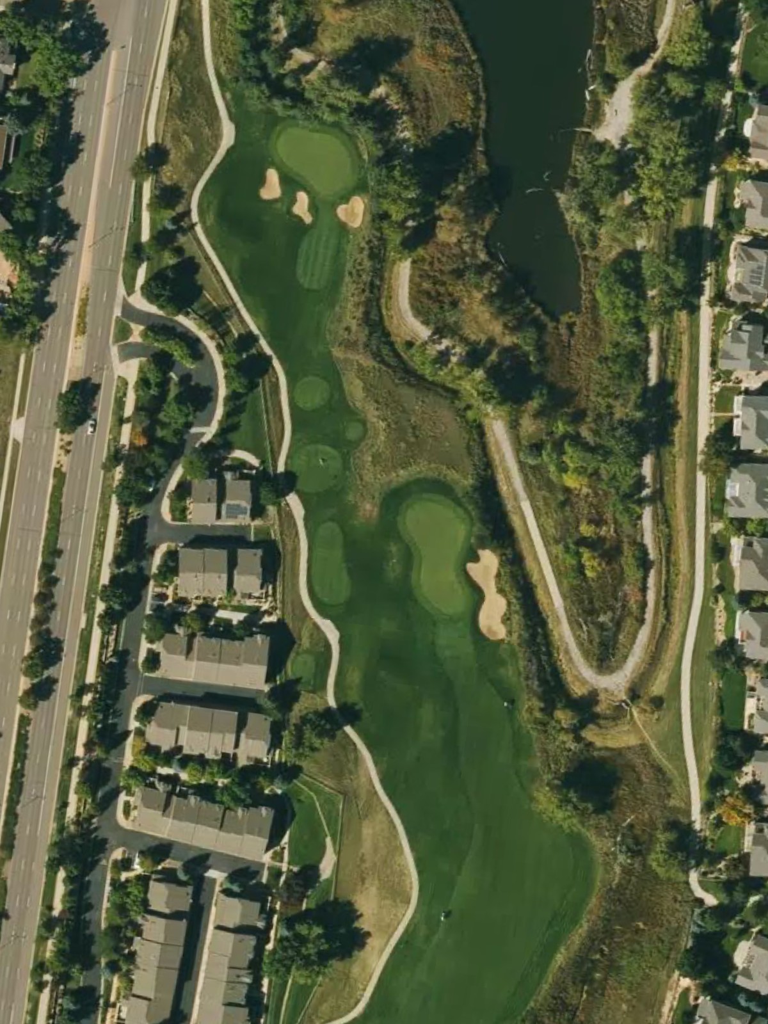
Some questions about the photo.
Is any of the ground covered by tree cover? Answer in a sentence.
Yes, there is tree cover in the image.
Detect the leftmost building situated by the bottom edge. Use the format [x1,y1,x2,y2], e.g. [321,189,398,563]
[123,877,192,1024]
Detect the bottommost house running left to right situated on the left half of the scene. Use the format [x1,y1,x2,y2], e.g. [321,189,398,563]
[130,786,276,861]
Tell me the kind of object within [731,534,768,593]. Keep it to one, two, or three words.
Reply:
house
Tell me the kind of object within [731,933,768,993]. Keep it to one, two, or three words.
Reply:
house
